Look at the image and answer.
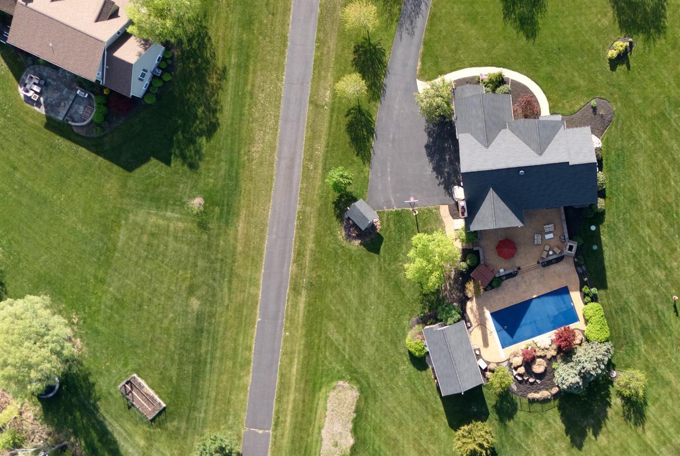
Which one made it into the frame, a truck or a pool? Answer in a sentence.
Of the two, only a pool appears.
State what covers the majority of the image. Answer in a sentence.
The bulk of the photo consists of grass.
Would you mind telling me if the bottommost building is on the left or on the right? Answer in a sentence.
The bottommost building is on the right side of the image.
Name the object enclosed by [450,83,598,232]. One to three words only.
house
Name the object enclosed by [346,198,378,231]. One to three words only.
shed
